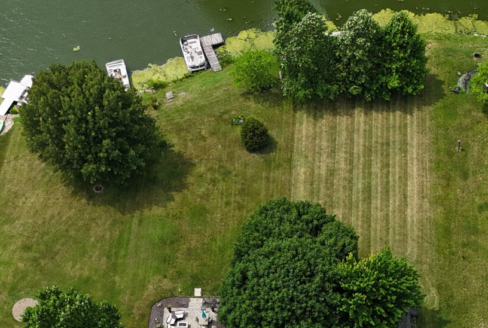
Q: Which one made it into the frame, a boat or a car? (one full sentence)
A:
I can see a boat in this picture.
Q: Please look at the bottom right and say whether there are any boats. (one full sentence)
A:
No, there is no boat at the bottom right.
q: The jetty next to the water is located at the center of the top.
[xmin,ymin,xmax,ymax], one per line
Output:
[200,31,226,74]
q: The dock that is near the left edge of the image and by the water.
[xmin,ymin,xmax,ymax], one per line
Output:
[0,79,20,119]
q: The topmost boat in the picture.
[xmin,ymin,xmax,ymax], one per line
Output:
[179,35,208,77]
